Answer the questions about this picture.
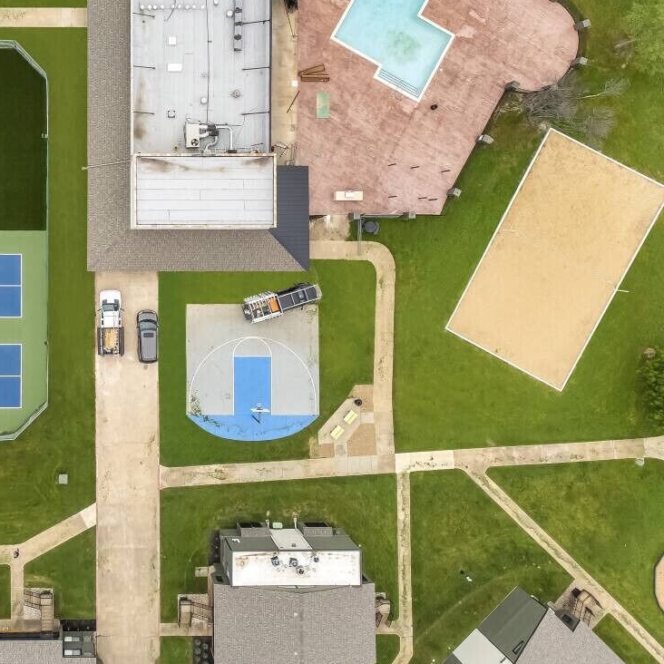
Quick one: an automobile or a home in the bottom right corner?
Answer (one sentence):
Visible in the bottom right corner is a home.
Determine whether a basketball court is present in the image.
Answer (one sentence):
Yes, the picture does show a basketball court.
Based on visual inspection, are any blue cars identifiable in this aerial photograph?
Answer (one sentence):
No, there's no blue car here.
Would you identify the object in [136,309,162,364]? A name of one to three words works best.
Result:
car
